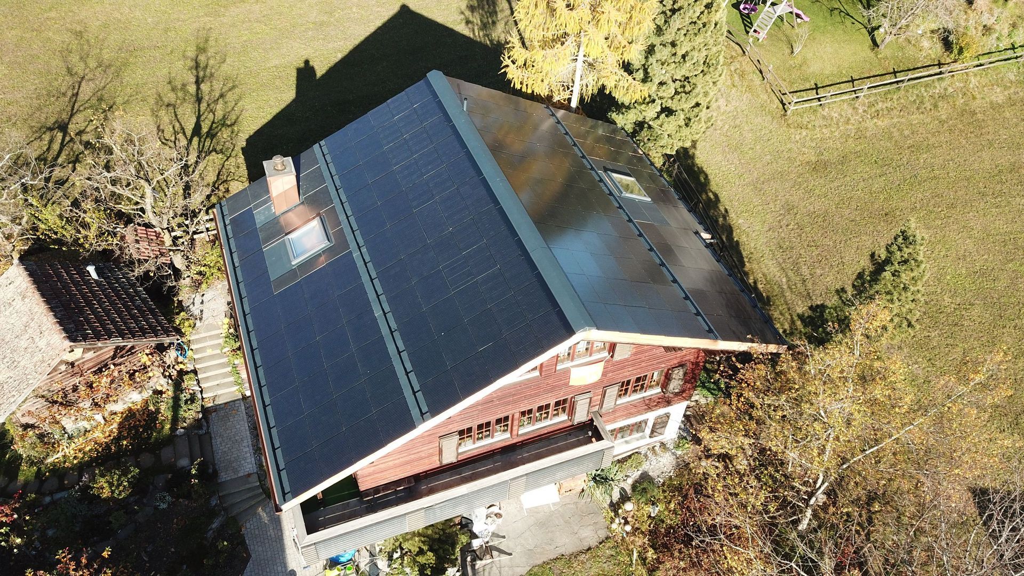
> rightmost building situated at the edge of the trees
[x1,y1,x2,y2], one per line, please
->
[211,67,793,572]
